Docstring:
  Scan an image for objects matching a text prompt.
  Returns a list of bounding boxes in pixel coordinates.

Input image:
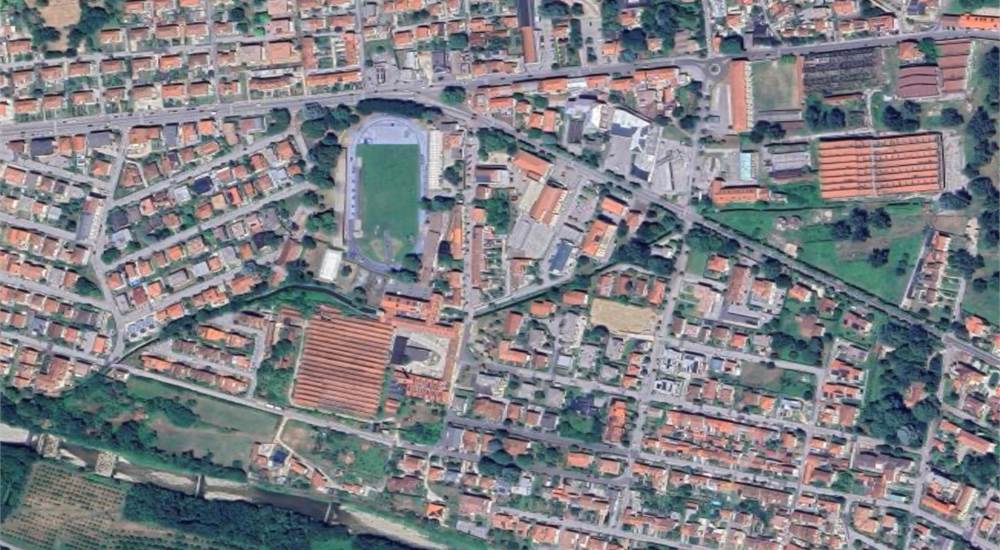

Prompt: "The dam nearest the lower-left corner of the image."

[35,435,61,459]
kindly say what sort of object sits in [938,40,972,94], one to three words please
shed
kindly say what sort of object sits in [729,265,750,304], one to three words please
building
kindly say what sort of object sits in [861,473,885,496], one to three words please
house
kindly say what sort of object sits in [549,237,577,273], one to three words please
building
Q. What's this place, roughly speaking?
residential area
